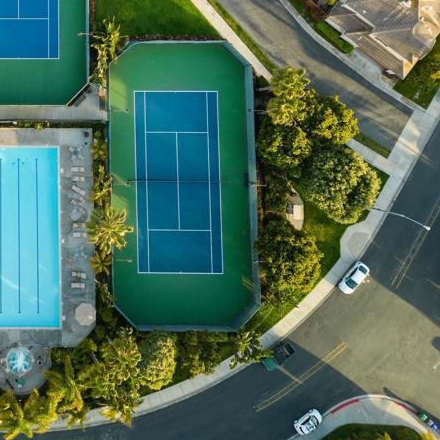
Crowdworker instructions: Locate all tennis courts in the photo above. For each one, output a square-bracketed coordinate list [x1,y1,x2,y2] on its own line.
[0,0,92,107]
[107,41,261,332]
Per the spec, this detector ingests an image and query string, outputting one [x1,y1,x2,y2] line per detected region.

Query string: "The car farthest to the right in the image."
[341,261,373,295]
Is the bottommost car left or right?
right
